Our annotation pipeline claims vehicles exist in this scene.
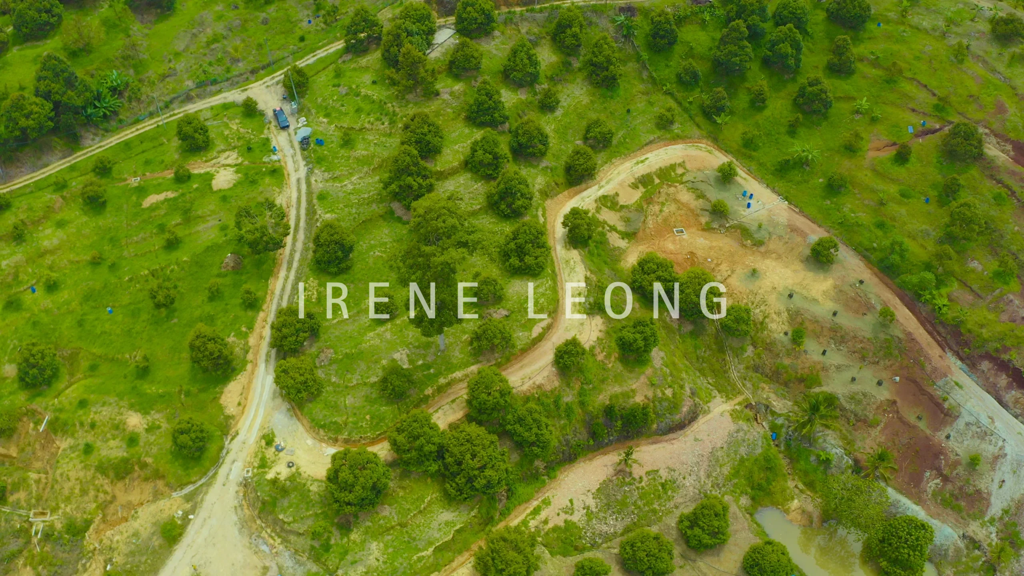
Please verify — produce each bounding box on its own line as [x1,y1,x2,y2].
[271,105,289,128]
